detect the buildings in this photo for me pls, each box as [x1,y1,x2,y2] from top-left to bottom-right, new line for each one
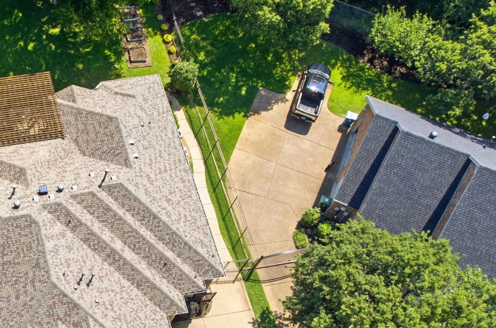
[323,95,496,322]
[0,72,225,328]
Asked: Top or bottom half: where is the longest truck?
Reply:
top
